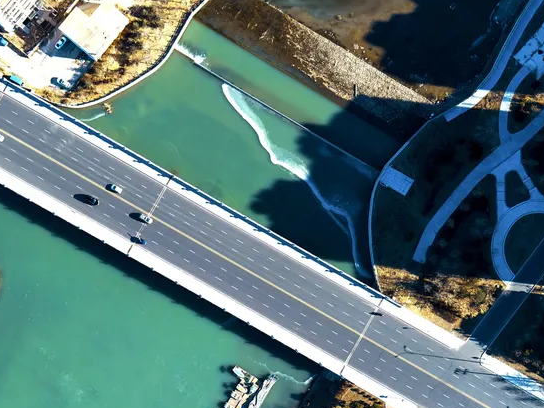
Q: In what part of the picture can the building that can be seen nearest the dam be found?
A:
top left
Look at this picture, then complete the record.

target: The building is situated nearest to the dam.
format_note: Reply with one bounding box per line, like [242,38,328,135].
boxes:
[59,2,129,67]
